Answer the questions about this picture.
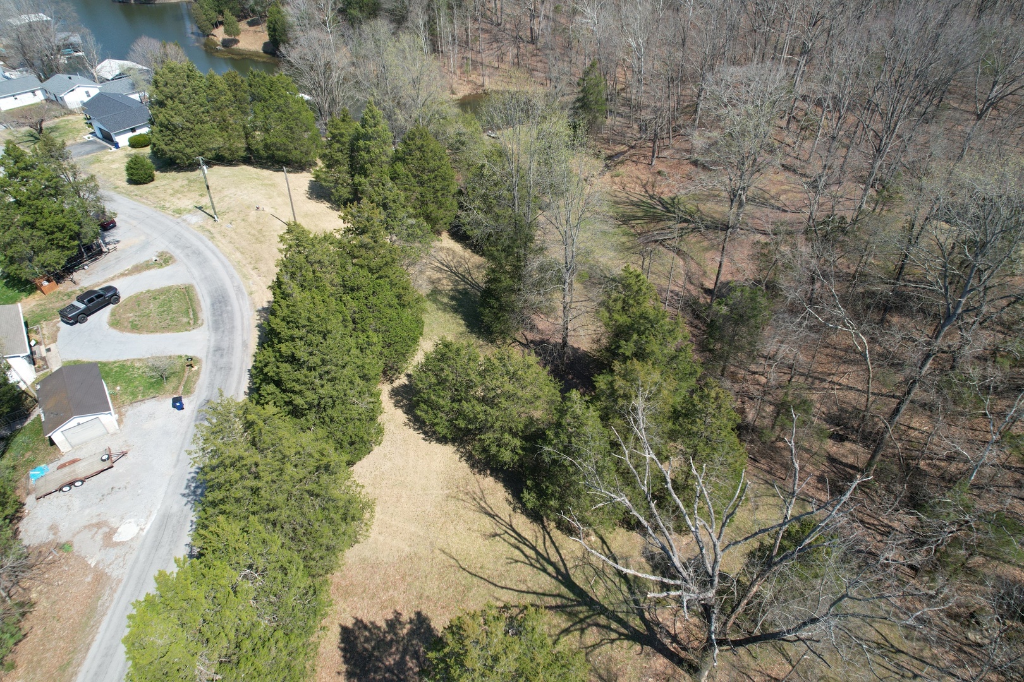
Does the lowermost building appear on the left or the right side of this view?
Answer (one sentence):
The lowermost building is on the left side of the image.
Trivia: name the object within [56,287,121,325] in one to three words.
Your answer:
truck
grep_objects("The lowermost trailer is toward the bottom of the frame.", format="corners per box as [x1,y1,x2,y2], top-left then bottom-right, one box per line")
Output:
[33,447,131,499]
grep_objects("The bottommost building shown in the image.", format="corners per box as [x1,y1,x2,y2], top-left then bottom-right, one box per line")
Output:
[32,362,121,452]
